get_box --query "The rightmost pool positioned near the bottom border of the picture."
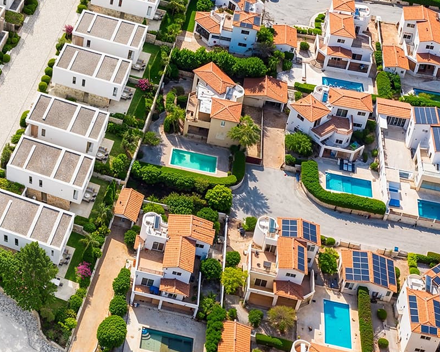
[320,297,355,351]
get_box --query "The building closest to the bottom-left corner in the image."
[0,190,75,270]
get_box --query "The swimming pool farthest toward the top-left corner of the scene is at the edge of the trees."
[168,146,220,173]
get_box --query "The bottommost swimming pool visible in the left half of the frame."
[137,322,195,352]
